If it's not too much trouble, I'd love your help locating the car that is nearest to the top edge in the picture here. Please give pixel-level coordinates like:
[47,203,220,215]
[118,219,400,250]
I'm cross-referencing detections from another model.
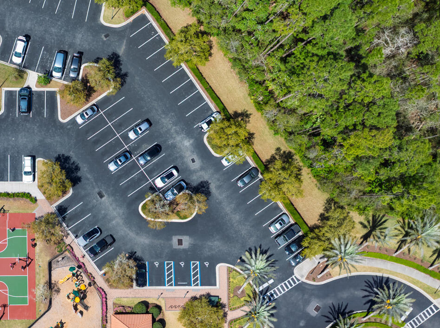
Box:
[13,36,26,61]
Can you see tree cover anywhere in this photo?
Yes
